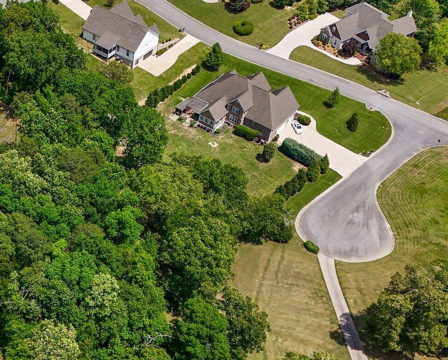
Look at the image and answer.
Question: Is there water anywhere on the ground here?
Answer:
No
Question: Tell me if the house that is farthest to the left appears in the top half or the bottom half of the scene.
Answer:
top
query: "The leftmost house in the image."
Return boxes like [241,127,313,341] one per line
[81,0,159,70]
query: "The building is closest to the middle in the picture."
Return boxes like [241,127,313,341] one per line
[163,67,299,141]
